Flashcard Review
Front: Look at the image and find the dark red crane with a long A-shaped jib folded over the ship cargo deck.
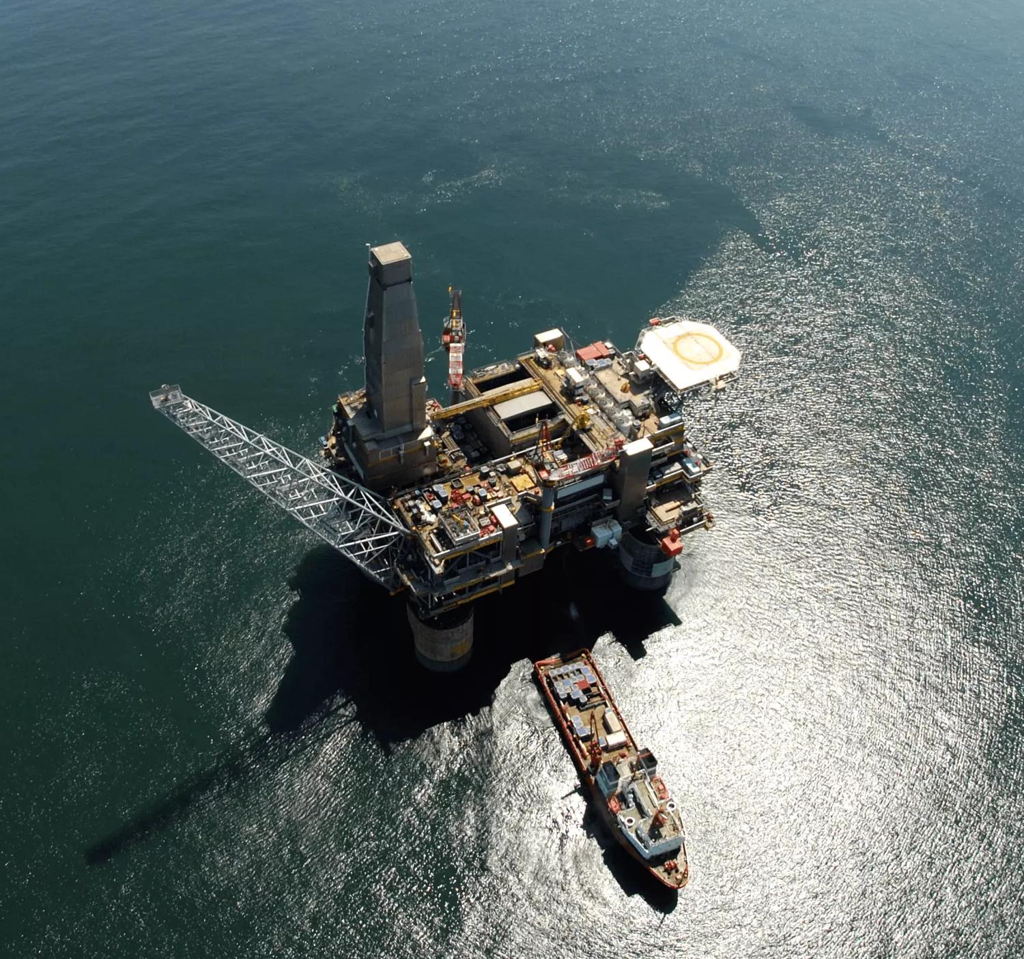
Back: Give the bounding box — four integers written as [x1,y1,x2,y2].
[587,710,605,771]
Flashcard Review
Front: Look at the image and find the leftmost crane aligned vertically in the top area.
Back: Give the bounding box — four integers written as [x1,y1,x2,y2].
[439,289,464,418]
